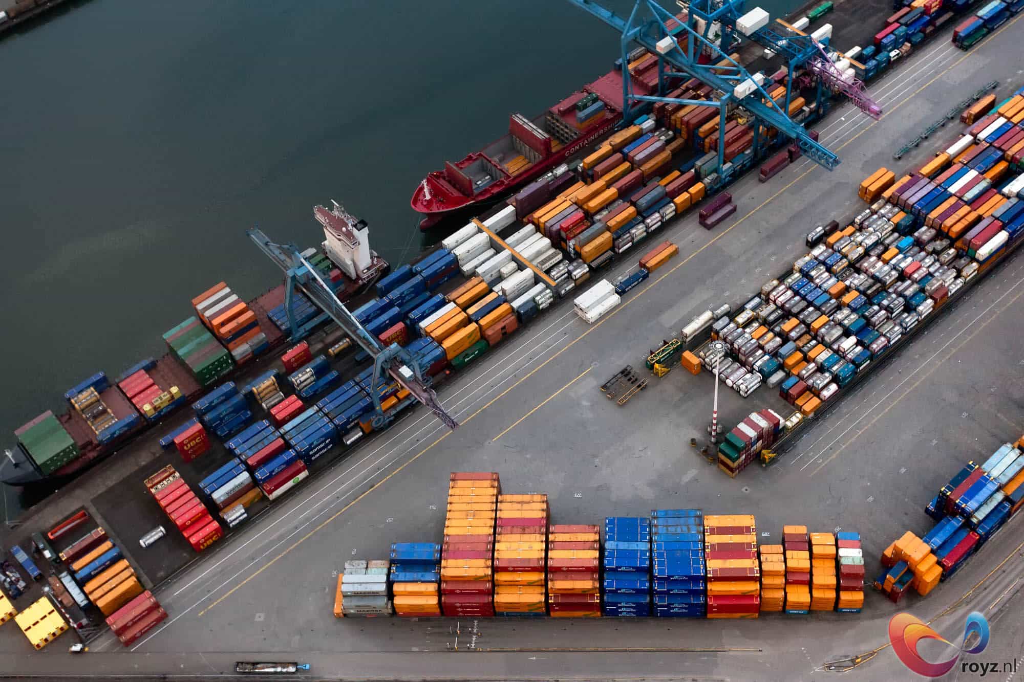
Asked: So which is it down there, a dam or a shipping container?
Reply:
shipping container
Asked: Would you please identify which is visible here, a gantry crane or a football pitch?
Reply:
gantry crane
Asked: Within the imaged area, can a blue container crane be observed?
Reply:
Yes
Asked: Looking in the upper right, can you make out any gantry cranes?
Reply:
Yes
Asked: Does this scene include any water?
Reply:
Yes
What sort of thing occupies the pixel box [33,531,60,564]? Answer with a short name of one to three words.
truck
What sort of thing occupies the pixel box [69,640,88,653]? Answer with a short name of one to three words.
vehicle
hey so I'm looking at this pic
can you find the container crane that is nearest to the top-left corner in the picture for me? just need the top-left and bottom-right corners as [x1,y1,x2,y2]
[238,224,465,435]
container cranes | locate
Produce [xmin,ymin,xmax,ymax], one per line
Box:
[238,224,465,435]
[674,0,884,137]
[561,0,844,188]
